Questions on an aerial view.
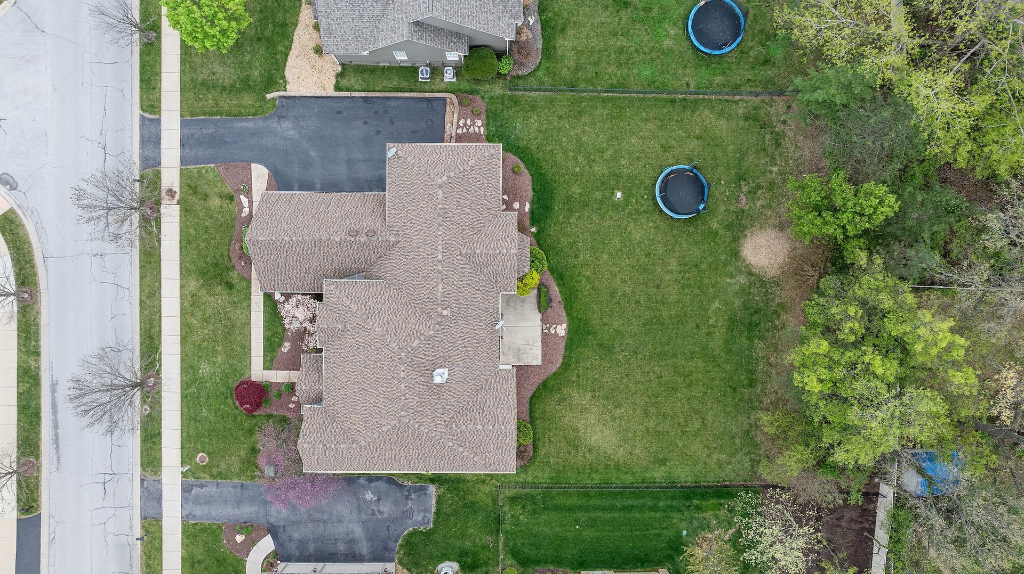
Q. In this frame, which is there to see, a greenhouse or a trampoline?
trampoline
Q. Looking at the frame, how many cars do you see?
0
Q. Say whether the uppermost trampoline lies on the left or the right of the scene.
right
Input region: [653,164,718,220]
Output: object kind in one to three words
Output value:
trampoline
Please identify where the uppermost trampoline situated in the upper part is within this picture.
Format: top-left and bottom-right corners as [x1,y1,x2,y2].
[685,0,750,58]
